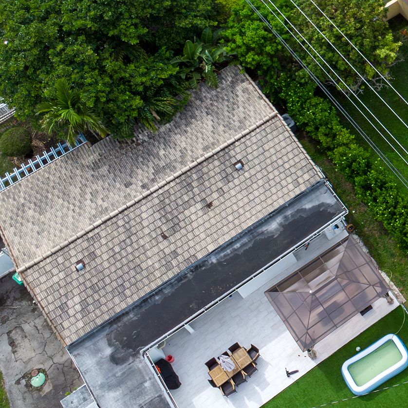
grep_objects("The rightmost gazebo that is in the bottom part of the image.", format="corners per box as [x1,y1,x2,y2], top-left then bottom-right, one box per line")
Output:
[266,236,397,362]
